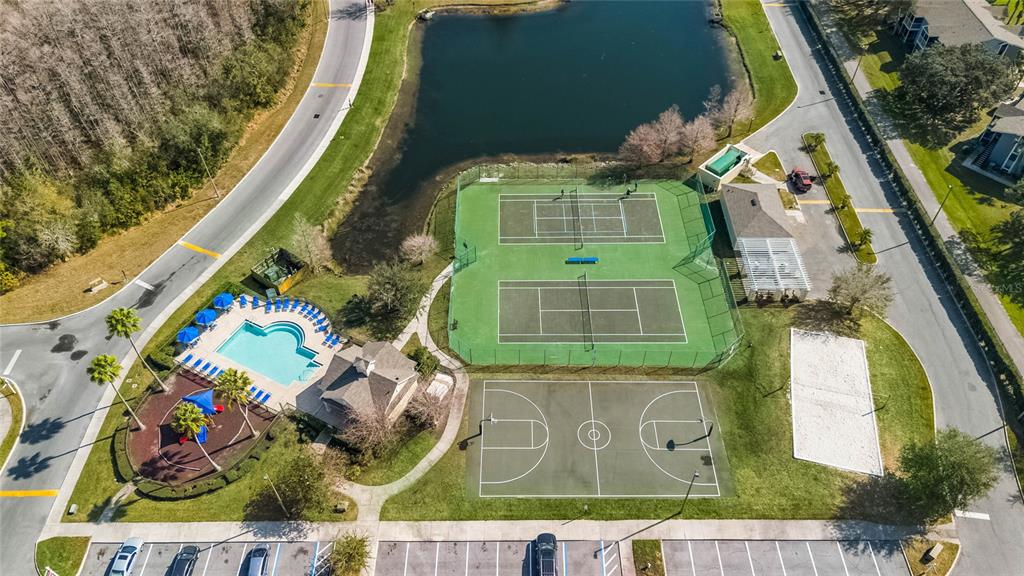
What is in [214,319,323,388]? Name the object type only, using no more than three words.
swimming pool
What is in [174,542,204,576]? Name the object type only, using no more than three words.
car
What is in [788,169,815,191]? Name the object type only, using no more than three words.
car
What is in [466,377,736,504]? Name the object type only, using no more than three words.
basketball court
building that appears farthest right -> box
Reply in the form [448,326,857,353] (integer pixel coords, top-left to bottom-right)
[969,93,1024,173]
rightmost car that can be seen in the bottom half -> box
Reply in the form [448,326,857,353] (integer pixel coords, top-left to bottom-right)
[534,533,557,576]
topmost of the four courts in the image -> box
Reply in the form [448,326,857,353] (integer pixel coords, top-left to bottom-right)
[498,193,666,244]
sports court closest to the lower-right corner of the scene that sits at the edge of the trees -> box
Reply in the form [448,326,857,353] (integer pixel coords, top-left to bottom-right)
[791,327,885,477]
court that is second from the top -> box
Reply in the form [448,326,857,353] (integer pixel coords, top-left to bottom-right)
[497,279,687,344]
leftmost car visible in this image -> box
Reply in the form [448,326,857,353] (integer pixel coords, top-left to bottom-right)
[111,534,144,576]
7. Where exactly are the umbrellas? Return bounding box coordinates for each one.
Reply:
[215,296,236,315]
[197,312,218,331]
[178,329,201,348]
